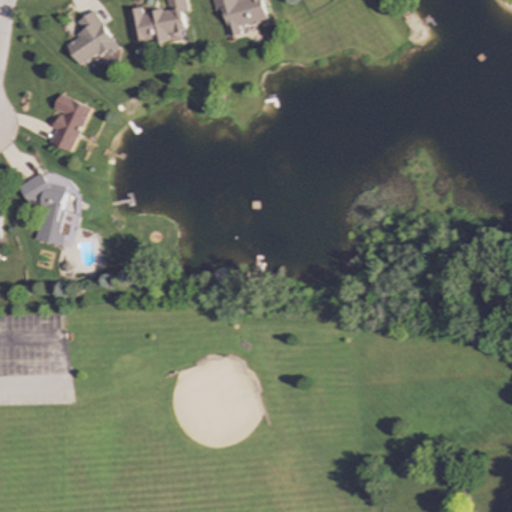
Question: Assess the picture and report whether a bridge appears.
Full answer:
No, the photo shows no bridge.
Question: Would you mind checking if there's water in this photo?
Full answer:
Yes, there is water in the image.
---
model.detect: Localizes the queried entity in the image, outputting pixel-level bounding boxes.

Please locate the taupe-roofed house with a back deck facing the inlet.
[214,0,270,37]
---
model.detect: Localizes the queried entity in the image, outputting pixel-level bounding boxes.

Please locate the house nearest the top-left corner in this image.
[68,10,119,66]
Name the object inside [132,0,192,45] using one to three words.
house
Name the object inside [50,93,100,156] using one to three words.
house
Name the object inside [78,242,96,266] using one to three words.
swimming pool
